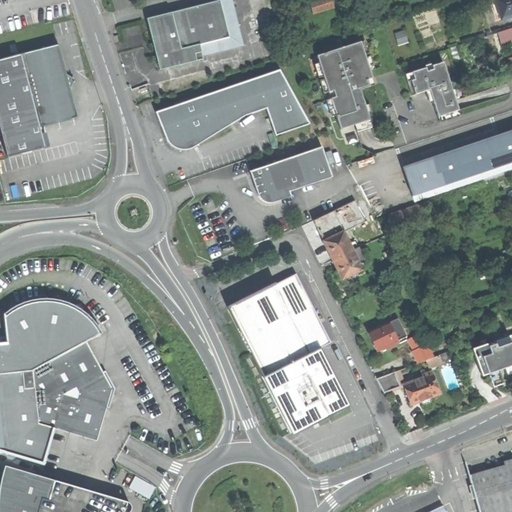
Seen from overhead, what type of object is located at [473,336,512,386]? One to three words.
house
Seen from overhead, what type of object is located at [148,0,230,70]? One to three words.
building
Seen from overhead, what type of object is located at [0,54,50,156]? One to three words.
building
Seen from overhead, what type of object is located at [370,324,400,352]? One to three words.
house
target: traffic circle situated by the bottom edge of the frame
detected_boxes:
[192,460,298,512]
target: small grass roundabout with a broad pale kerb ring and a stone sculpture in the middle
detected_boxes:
[114,192,154,232]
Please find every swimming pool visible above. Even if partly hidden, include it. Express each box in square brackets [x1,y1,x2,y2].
[440,364,460,391]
